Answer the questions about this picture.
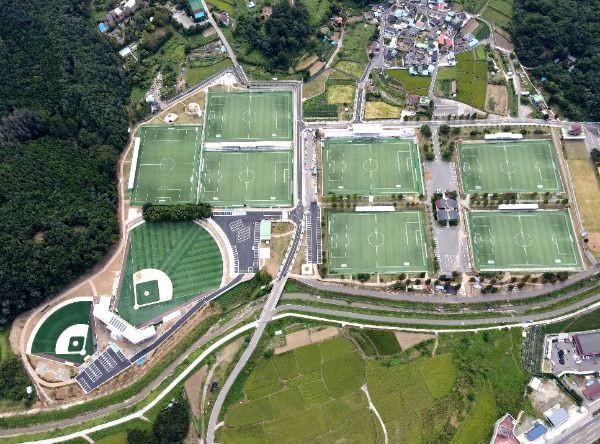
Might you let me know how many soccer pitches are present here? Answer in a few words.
seven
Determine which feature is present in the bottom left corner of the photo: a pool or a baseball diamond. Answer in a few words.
baseball diamond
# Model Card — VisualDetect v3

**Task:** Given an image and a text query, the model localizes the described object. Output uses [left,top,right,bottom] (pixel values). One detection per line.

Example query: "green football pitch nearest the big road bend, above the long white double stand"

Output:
[204,89,294,142]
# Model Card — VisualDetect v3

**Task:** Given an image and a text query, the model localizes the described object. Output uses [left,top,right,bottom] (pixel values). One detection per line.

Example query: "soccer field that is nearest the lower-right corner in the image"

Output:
[469,209,583,271]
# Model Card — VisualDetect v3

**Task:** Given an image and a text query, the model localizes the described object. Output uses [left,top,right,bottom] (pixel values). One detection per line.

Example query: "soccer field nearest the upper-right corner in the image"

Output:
[458,139,564,194]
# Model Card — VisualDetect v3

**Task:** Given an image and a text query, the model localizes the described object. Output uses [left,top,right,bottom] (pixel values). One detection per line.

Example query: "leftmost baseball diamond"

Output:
[26,296,100,366]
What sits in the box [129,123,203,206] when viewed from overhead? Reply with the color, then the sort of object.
green soccer field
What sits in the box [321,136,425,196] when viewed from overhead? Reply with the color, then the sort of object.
green soccer field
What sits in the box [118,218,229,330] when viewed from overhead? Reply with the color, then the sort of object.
green baseball field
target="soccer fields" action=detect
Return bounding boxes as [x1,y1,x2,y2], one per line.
[204,89,294,142]
[129,123,203,206]
[327,209,429,274]
[200,149,294,208]
[321,136,425,196]
[458,139,564,194]
[469,209,583,271]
